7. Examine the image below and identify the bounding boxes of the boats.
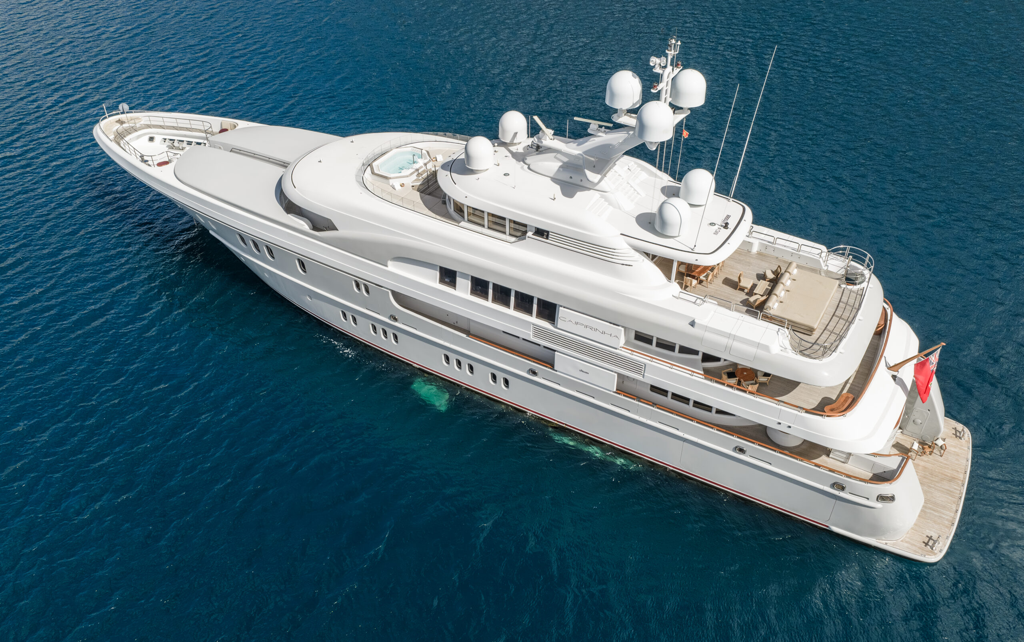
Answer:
[97,28,970,568]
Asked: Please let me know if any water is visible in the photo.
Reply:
Yes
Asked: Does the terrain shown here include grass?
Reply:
No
